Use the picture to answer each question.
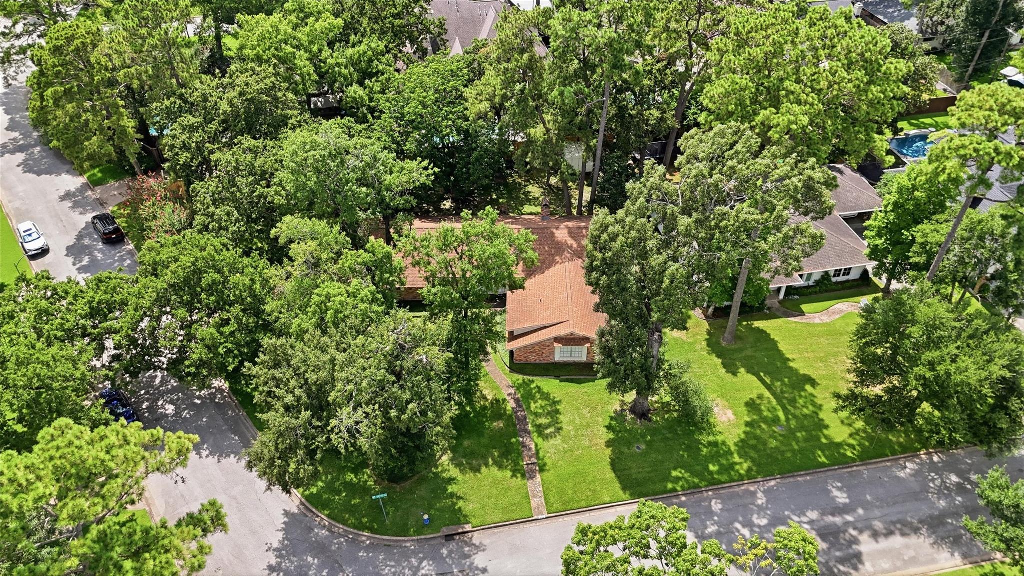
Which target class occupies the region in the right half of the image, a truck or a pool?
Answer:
pool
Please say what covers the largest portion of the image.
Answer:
trees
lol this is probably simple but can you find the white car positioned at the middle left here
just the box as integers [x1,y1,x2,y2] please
[16,220,49,257]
